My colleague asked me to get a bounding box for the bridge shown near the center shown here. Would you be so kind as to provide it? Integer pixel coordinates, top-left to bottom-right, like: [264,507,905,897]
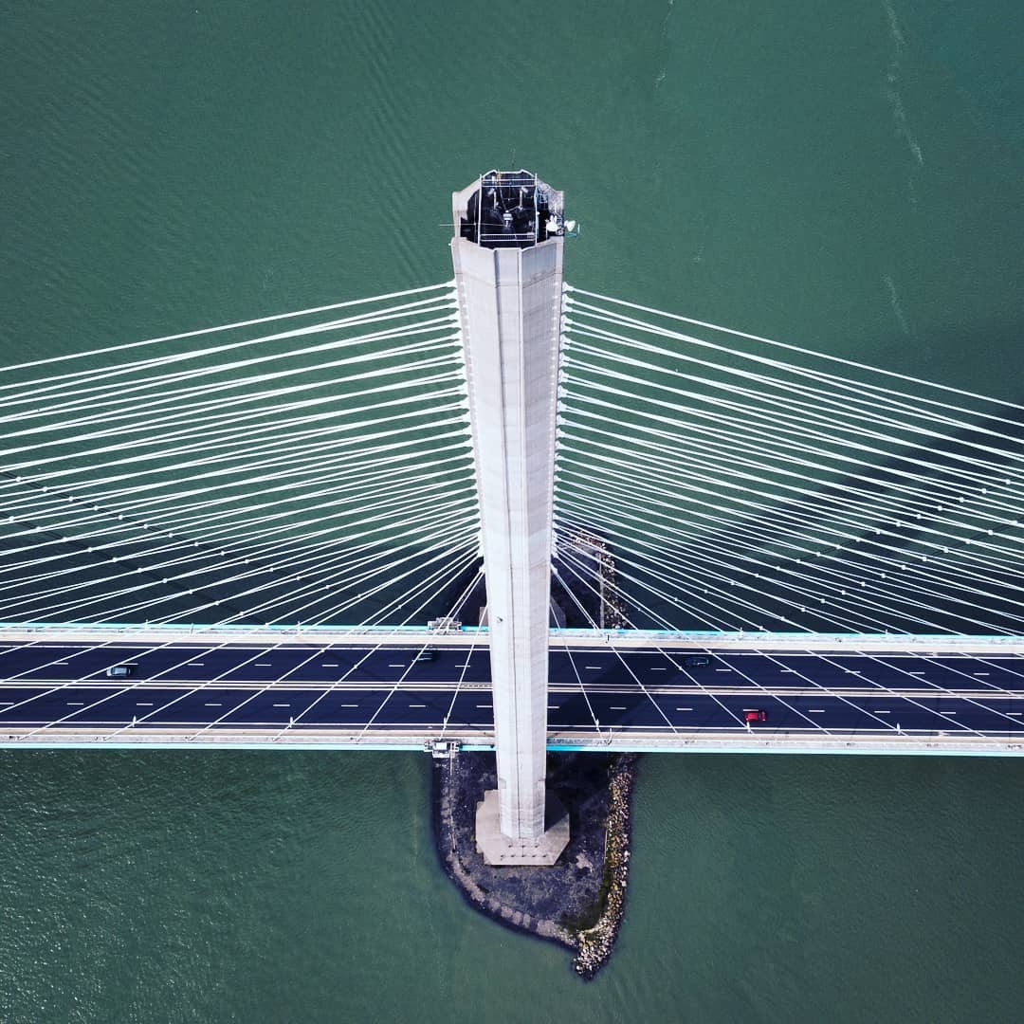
[0,174,1024,866]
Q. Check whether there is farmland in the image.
No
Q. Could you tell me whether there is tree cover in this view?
No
